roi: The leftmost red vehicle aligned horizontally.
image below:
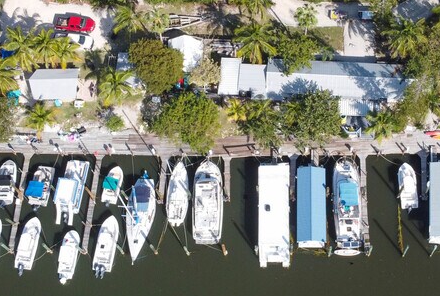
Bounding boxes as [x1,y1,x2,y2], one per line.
[52,15,99,36]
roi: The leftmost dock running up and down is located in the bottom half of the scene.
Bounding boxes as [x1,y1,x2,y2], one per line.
[7,155,35,253]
